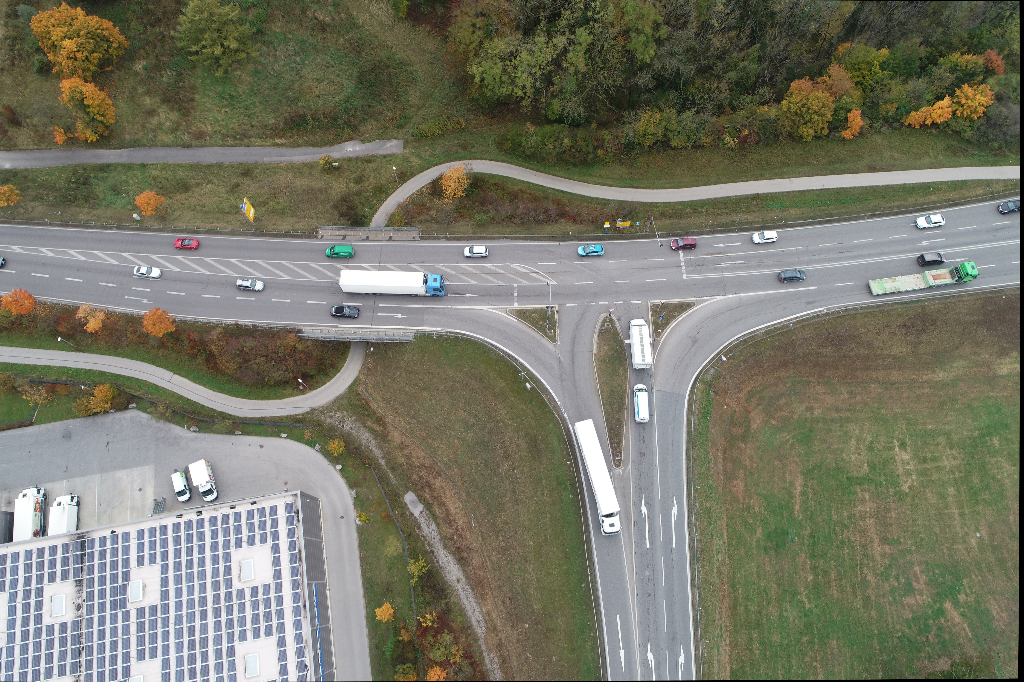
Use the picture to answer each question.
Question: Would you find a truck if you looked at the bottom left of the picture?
Yes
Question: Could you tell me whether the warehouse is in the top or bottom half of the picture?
bottom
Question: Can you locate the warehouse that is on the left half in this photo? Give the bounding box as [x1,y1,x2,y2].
[0,491,336,682]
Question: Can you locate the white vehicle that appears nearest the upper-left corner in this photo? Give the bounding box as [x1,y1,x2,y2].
[132,266,163,279]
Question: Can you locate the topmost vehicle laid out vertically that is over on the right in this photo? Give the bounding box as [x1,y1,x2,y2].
[631,319,651,371]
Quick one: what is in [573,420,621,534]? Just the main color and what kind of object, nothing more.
white truck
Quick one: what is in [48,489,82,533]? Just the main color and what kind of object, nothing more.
white truck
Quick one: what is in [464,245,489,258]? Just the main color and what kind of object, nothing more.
white vehicle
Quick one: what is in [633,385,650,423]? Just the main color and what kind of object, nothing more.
white vehicle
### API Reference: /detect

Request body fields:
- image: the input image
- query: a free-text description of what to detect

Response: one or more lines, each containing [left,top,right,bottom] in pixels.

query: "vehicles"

[995,200,1024,215]
[631,319,651,371]
[186,462,218,504]
[13,483,49,539]
[573,420,621,534]
[777,269,806,283]
[330,305,360,318]
[464,245,489,258]
[669,237,697,251]
[0,257,7,269]
[174,237,201,250]
[913,213,948,228]
[578,244,605,257]
[915,252,946,267]
[132,266,163,279]
[169,472,191,503]
[325,244,356,258]
[340,271,445,295]
[751,231,780,244]
[868,262,980,295]
[633,385,650,423]
[234,278,266,292]
[48,489,82,533]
